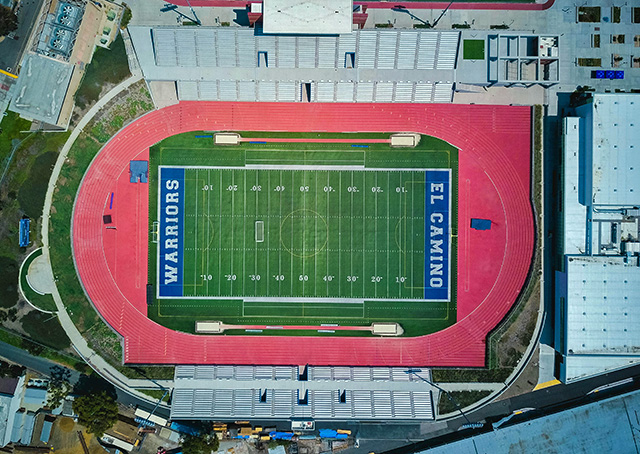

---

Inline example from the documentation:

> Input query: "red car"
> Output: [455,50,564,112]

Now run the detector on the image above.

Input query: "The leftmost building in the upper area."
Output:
[8,52,85,128]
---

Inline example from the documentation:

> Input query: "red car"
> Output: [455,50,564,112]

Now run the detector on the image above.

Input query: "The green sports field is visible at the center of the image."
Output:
[148,131,461,338]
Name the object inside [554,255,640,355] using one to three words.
building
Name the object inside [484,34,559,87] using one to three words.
building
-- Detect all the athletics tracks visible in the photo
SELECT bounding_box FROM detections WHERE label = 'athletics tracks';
[72,101,534,367]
